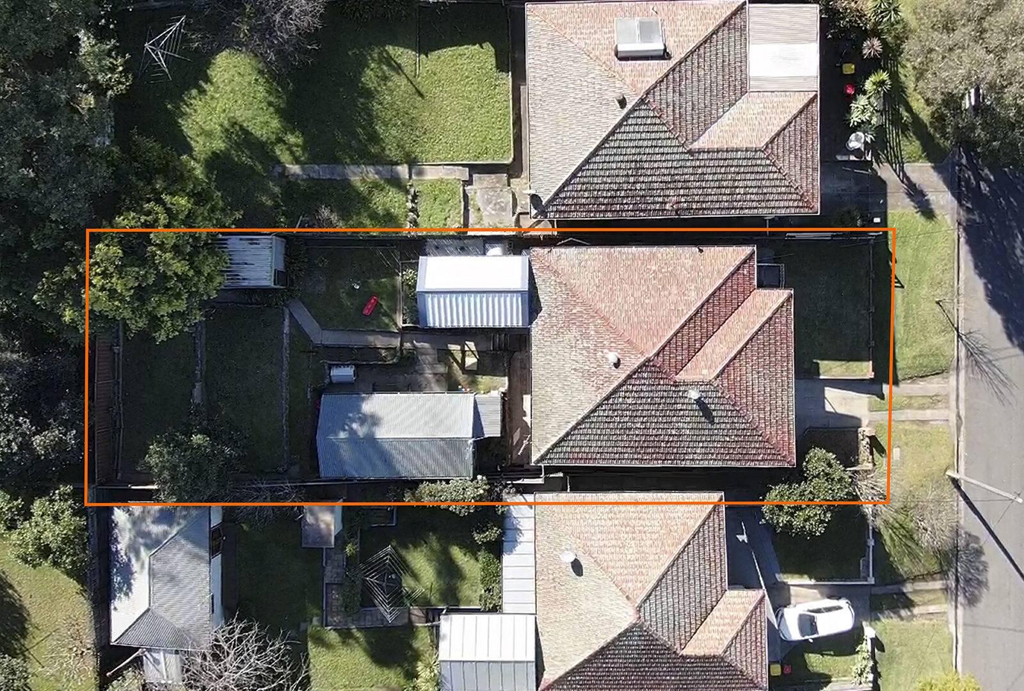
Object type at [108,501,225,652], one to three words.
shed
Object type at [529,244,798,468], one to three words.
house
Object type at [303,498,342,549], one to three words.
shed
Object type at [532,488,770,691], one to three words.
house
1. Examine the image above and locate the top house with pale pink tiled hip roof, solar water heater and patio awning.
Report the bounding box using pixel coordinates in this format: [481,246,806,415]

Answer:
[524,0,824,221]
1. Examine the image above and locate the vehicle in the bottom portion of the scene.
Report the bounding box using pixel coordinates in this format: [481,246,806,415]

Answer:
[774,594,858,643]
